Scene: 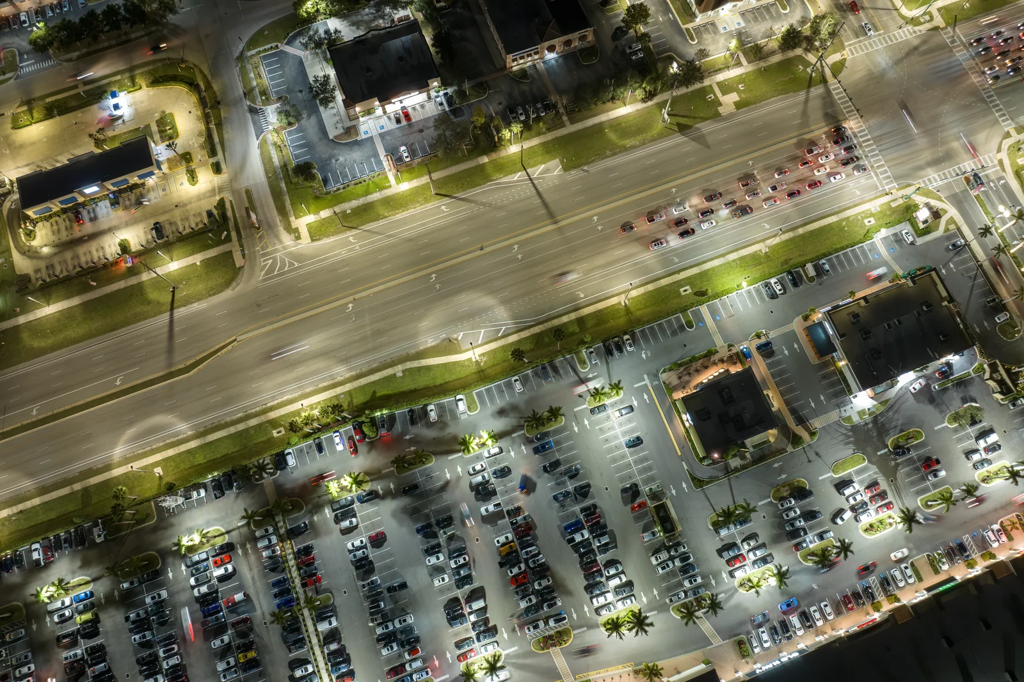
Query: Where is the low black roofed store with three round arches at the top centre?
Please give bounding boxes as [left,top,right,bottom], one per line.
[467,0,593,70]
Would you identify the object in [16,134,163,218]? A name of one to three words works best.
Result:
building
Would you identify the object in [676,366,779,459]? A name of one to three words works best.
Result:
building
